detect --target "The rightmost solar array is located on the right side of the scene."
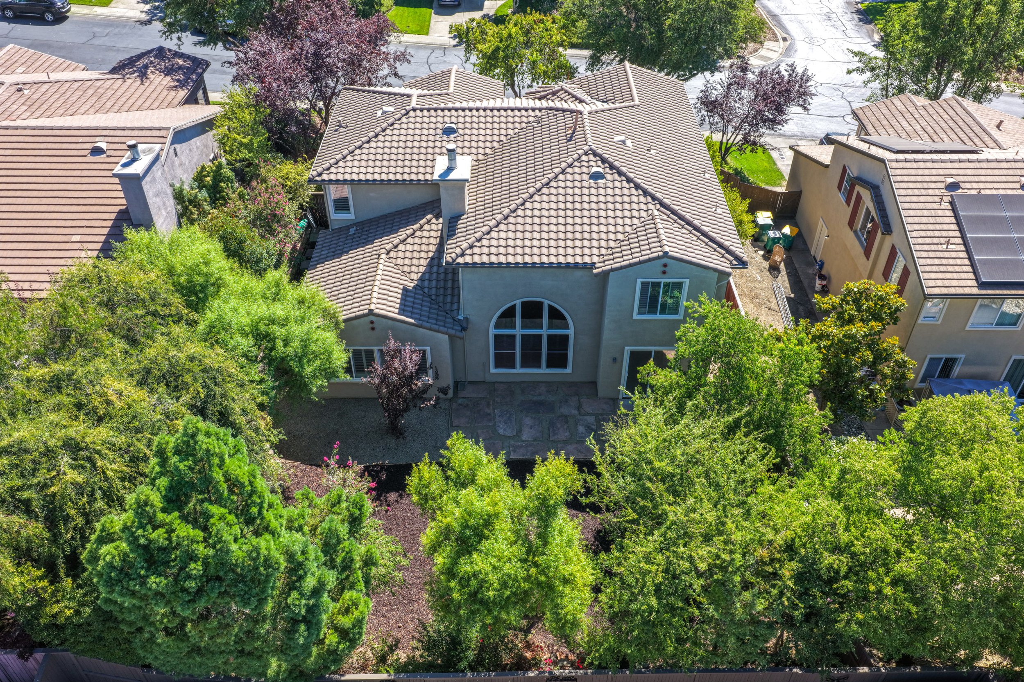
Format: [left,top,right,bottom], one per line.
[951,194,1024,287]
